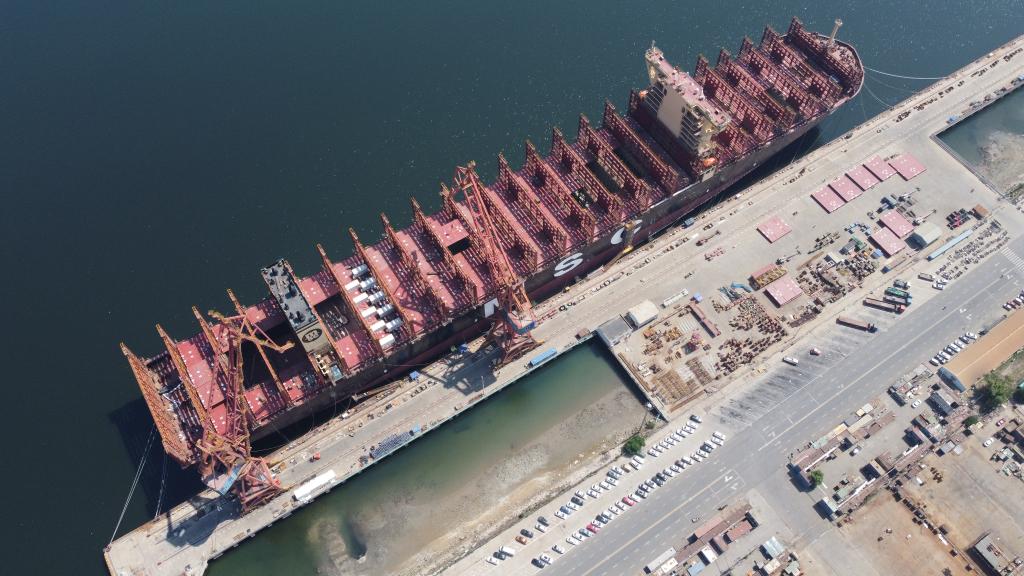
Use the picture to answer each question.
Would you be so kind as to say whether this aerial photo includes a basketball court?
No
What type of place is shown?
port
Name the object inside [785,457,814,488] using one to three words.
house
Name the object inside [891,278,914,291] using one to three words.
vehicle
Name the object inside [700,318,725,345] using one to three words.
shipping container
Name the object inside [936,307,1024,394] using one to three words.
hangar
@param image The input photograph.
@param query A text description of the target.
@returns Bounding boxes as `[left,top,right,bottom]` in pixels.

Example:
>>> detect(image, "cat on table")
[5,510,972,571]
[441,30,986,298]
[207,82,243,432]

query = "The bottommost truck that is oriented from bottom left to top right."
[636,546,679,576]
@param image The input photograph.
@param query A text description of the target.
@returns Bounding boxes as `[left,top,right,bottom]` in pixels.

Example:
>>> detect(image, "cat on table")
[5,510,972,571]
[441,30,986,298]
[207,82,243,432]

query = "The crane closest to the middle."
[438,162,543,367]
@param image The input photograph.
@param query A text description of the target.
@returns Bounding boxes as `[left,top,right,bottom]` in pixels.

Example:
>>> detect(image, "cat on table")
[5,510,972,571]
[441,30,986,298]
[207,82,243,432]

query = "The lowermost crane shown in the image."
[191,306,304,519]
